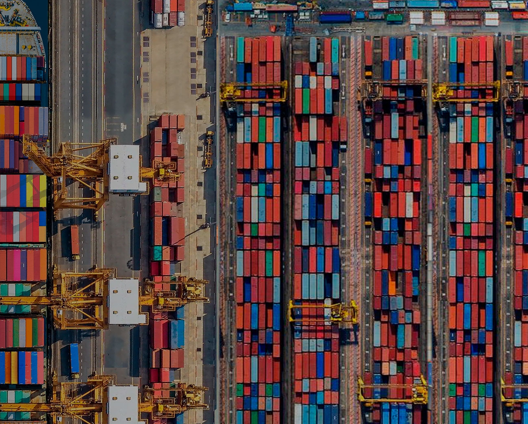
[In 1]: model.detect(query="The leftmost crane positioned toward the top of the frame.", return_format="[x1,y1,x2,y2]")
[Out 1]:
[18,131,182,199]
